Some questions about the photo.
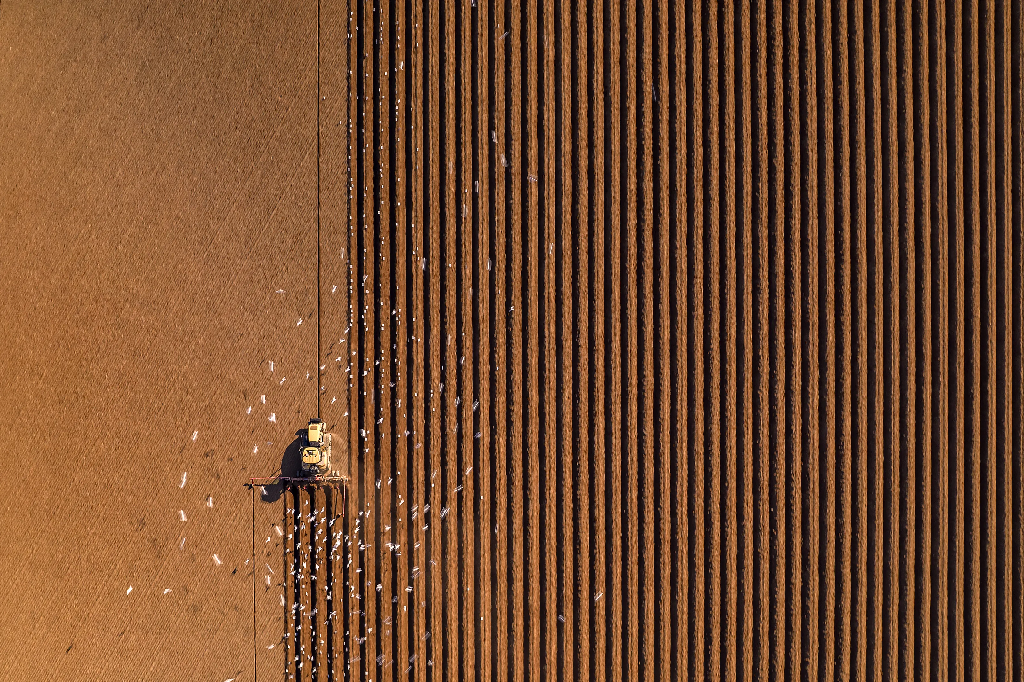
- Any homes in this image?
No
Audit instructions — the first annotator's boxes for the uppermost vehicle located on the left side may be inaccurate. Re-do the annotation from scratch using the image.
[300,418,333,477]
